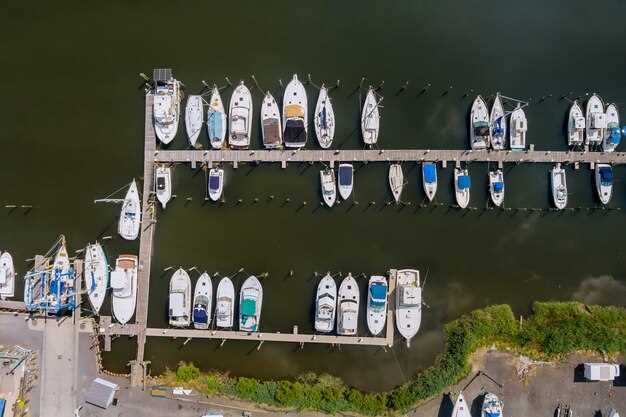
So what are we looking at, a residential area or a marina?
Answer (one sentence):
The area seen from above is a marina.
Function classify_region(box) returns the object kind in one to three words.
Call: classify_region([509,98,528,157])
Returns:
boat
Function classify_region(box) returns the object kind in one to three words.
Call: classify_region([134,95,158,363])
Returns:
pier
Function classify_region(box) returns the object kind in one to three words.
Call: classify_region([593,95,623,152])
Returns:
boat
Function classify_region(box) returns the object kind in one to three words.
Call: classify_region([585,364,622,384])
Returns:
vehicle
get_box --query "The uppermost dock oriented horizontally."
[155,143,626,170]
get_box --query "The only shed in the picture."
[87,377,119,409]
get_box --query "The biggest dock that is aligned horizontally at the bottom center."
[147,323,386,348]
